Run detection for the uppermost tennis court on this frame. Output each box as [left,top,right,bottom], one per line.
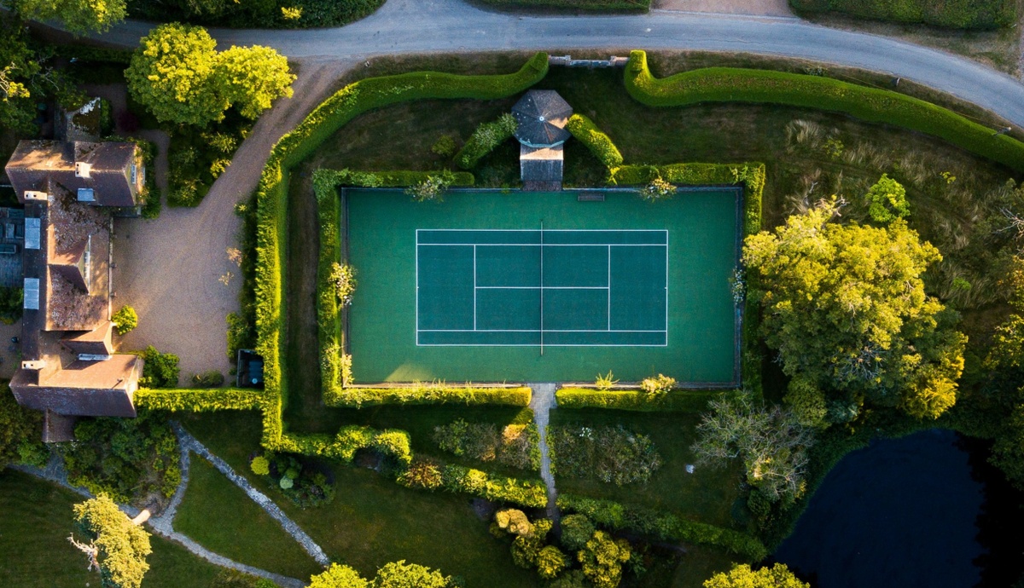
[349,192,736,383]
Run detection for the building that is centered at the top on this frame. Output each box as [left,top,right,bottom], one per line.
[512,89,572,182]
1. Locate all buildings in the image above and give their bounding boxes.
[1,139,155,446]
[512,89,572,182]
